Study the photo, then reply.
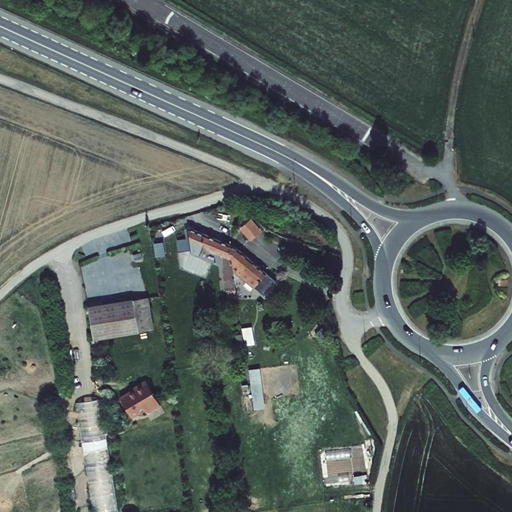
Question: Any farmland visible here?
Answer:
Yes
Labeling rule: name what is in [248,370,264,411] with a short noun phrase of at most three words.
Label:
shed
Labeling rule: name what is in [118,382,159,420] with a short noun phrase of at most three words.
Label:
house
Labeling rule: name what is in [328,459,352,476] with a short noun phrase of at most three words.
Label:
building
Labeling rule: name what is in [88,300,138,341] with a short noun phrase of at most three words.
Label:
barn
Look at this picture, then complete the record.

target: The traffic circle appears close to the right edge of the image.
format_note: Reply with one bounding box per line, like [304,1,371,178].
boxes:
[373,199,512,365]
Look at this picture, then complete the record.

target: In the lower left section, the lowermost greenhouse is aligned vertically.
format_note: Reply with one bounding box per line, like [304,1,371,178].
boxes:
[76,402,118,512]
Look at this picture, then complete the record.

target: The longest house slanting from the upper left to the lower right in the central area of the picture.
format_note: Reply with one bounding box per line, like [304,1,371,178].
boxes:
[186,229,264,288]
